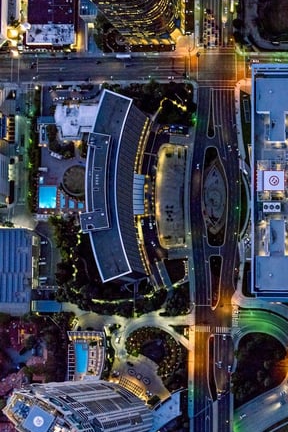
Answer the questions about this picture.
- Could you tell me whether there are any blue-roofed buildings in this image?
Yes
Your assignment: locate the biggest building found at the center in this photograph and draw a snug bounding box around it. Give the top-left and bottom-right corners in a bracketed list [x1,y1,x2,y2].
[80,89,153,287]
